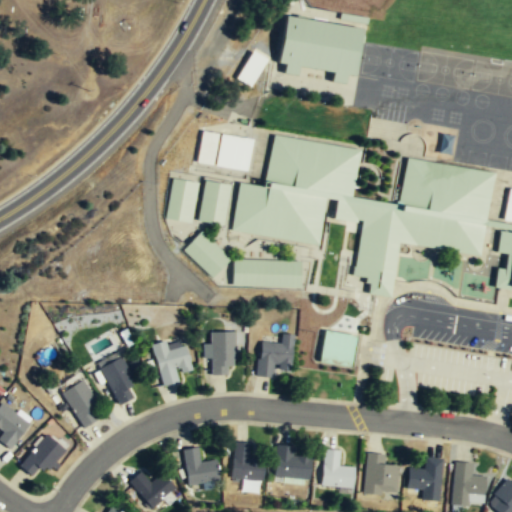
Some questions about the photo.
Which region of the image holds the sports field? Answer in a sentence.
The sports field appears toward the top right of the photo.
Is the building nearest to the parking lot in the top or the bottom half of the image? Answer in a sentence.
It is in the bottom half that the building nearest to the parking lot appears.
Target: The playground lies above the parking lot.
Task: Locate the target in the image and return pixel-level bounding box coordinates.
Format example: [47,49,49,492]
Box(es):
[398,257,496,302]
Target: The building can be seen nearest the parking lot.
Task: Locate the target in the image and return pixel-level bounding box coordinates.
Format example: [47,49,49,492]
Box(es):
[322,330,359,368]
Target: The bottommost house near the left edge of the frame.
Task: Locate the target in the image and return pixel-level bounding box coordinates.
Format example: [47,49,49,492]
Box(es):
[20,436,66,476]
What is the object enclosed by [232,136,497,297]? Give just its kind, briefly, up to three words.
building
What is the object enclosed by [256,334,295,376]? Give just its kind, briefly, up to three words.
house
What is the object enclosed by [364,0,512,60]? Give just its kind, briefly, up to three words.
sports field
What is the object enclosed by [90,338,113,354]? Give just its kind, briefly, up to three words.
swimming pool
